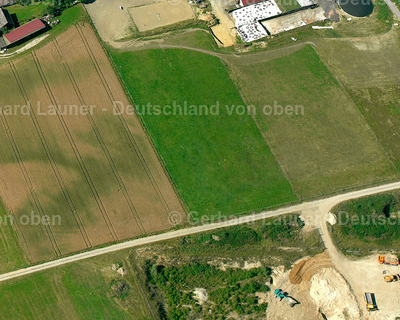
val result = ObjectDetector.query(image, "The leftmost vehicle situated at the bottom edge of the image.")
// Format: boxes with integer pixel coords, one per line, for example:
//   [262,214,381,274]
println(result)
[275,288,298,308]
